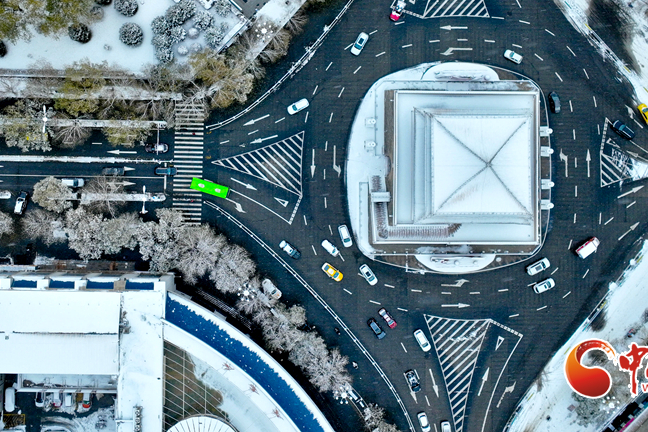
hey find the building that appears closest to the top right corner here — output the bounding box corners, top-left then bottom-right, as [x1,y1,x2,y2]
[368,81,547,255]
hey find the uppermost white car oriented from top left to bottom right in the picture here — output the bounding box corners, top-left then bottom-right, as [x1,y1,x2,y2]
[502,48,523,65]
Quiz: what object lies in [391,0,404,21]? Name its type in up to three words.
vehicle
